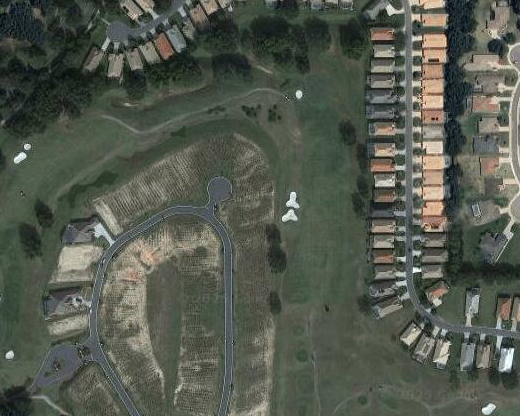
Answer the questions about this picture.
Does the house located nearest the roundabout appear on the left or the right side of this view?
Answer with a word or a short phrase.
left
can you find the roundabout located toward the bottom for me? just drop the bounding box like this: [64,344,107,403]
[34,343,98,388]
